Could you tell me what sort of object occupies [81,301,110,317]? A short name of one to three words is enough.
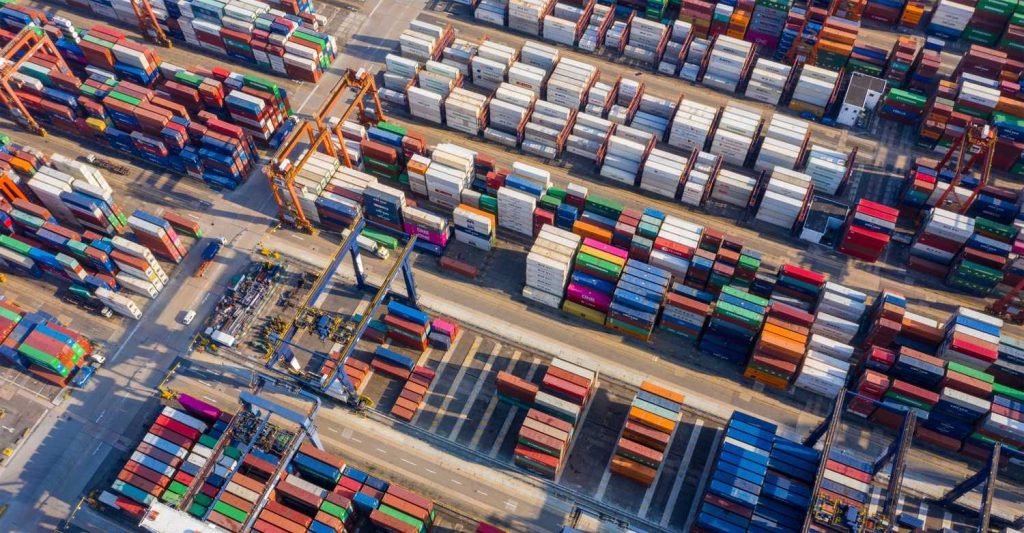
vehicle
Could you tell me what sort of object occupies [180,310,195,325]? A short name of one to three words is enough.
vehicle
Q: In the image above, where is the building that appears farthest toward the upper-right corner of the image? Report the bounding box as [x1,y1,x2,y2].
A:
[836,72,886,126]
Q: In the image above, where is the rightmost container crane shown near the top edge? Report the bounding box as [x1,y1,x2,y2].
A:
[784,0,838,67]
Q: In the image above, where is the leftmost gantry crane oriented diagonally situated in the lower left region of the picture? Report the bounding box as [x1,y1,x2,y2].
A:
[134,378,329,533]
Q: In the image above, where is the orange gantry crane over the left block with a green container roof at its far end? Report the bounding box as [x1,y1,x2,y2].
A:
[0,25,82,135]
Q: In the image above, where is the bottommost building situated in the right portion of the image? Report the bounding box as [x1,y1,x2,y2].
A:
[799,195,849,245]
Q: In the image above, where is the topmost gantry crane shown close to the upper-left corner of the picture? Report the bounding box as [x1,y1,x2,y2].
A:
[124,0,174,45]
